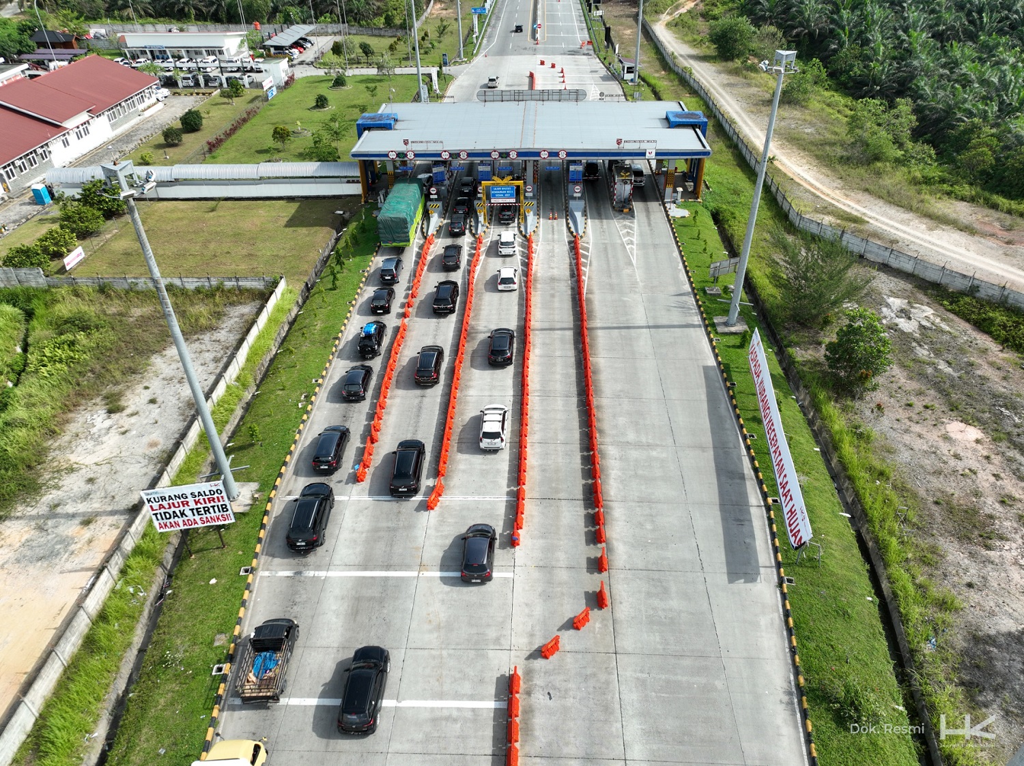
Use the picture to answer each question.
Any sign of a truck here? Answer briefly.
Yes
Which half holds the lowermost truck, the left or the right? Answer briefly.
left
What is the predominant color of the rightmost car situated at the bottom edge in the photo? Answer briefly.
black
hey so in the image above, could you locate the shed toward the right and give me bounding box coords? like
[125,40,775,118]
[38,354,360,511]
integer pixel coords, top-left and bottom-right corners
[618,56,644,82]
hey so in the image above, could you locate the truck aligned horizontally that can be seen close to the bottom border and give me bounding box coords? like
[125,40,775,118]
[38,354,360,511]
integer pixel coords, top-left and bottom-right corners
[194,728,279,766]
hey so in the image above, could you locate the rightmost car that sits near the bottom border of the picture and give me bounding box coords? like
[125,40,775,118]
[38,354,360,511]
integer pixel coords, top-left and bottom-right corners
[340,639,395,734]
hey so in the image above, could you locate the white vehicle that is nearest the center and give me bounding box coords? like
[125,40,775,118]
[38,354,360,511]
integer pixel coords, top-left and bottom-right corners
[478,400,511,451]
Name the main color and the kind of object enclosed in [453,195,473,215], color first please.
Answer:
black car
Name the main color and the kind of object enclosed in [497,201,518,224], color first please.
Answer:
black car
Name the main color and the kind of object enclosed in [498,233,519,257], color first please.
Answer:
white car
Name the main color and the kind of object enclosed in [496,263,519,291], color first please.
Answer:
white car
